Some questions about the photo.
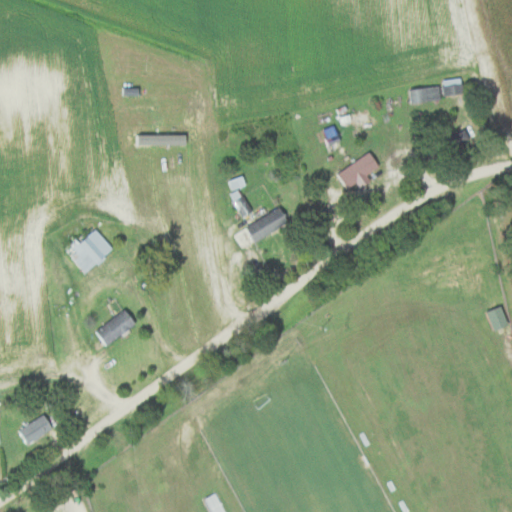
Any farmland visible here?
Yes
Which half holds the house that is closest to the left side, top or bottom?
bottom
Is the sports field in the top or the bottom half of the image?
bottom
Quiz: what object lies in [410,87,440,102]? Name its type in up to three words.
shed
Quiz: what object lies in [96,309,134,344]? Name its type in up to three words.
house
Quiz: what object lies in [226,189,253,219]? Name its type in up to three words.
shed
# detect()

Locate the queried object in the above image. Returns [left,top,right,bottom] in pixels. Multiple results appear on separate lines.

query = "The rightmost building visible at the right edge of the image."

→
[486,307,508,330]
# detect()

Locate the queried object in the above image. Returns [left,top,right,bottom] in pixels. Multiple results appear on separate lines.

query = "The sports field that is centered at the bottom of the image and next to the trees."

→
[200,352,394,512]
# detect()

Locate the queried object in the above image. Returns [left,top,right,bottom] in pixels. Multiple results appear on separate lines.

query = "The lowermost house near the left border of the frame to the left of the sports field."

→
[18,414,52,444]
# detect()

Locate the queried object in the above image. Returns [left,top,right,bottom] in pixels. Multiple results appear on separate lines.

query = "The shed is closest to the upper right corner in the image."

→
[440,78,462,96]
